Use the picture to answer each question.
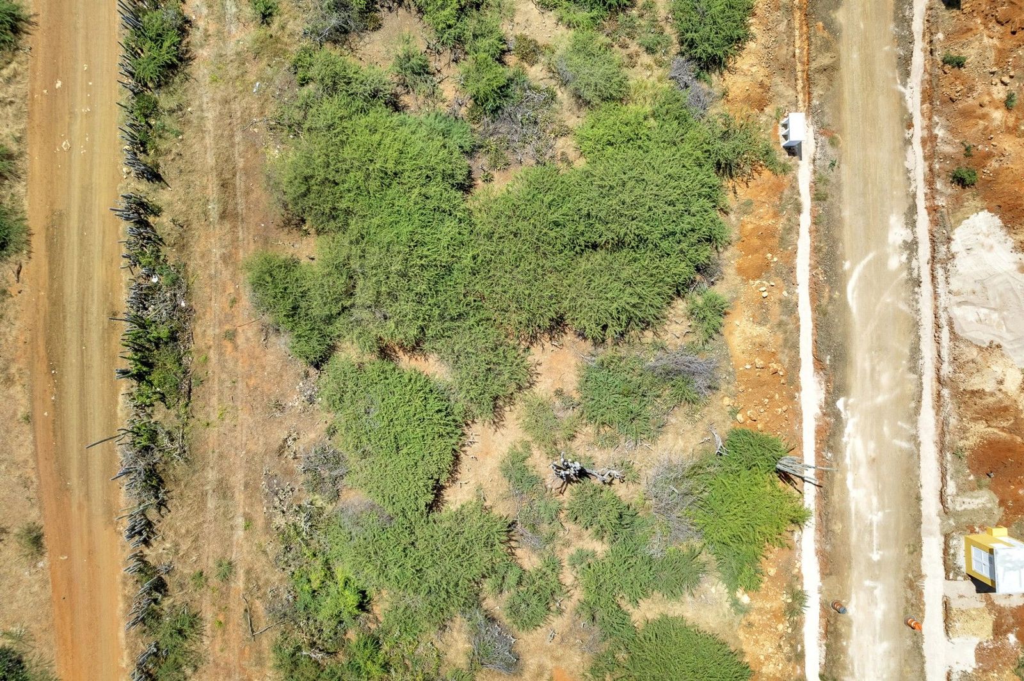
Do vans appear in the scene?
No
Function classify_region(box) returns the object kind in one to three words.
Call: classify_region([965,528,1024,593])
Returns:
shed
